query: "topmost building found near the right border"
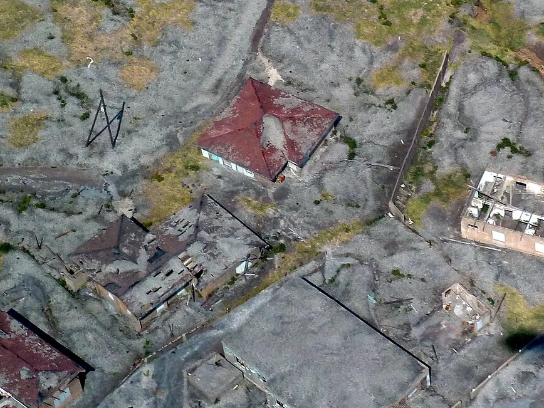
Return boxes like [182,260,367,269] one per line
[448,161,544,261]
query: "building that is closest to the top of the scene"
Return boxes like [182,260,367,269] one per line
[194,76,343,196]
